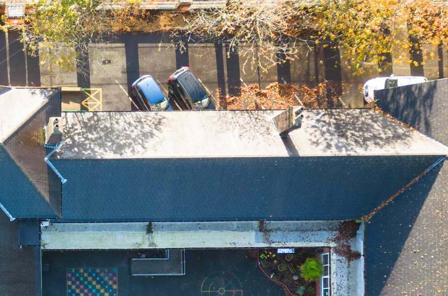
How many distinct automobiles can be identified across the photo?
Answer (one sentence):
The picture shows 3 automobiles.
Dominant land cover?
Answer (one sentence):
The bulk of the photo consists of buildings.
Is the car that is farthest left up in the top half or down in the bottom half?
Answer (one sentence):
The top half of the photo is where the car that is farthest left is.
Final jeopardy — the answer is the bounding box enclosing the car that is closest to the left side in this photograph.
[131,72,173,109]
